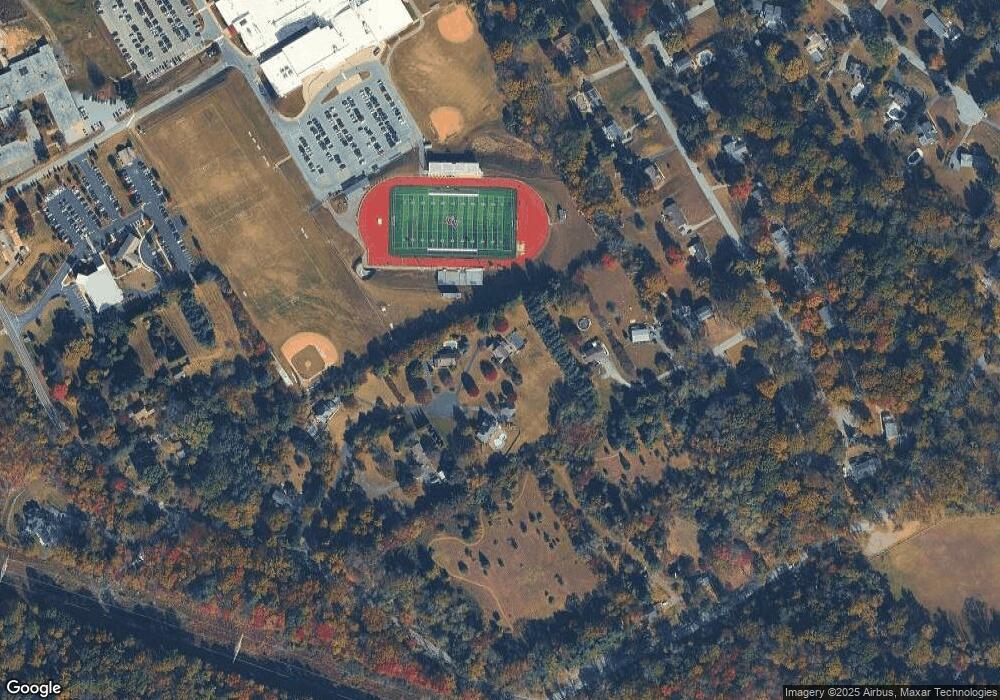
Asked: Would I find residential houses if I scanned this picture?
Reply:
Yes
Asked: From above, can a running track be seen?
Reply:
Yes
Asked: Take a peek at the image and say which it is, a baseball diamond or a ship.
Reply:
baseball diamond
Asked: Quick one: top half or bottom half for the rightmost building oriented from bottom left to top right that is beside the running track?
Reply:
top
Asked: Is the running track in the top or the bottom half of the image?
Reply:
top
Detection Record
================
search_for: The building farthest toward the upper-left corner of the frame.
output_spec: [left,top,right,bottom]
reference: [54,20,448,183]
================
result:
[0,42,89,181]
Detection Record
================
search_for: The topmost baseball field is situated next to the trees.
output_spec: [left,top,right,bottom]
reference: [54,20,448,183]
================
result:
[438,1,473,42]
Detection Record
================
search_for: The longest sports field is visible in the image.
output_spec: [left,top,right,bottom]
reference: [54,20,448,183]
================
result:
[134,72,396,391]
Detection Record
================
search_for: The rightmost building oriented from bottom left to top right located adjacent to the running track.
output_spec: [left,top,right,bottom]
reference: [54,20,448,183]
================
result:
[341,175,370,199]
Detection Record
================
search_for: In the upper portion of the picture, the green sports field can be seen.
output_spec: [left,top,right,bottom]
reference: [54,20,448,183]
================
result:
[391,185,518,260]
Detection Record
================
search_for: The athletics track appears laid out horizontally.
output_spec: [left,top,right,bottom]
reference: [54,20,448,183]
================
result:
[360,177,550,268]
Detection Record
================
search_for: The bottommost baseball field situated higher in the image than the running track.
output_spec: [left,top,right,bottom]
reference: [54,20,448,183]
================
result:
[430,106,463,147]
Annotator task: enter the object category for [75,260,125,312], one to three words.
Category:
building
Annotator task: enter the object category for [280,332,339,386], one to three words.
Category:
baseball field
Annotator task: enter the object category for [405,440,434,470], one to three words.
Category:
house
